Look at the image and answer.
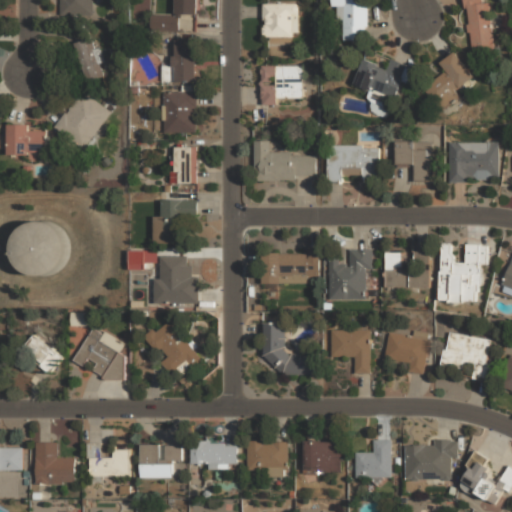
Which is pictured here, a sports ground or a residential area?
residential area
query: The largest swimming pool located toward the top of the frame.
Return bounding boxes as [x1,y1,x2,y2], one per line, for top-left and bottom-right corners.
[342,96,370,115]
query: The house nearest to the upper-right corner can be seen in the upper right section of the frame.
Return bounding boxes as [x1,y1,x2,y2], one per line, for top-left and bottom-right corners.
[462,0,498,50]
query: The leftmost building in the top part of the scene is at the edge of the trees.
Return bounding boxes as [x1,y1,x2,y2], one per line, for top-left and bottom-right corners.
[6,124,48,162]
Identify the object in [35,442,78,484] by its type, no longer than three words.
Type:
house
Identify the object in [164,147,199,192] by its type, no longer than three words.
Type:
house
